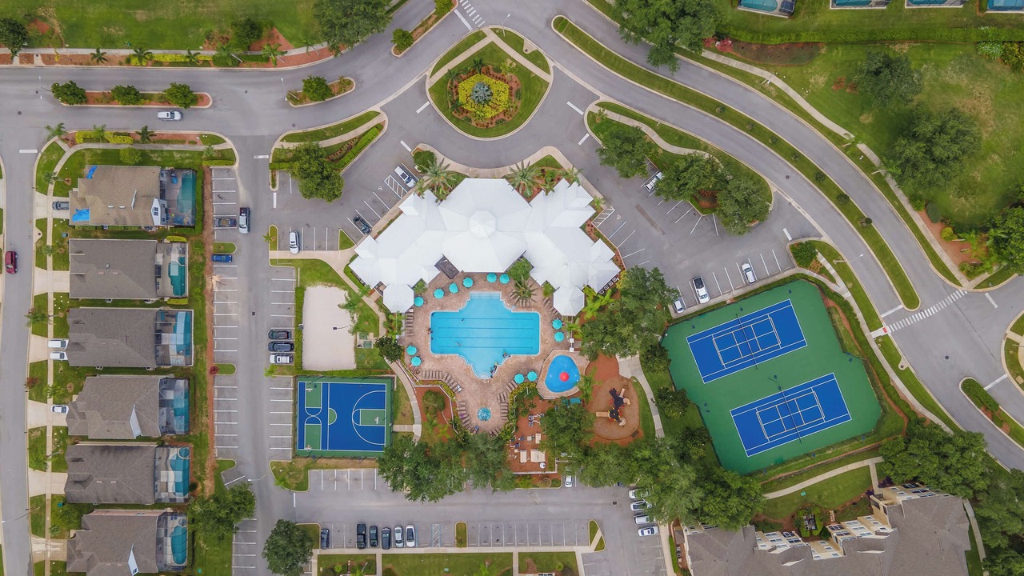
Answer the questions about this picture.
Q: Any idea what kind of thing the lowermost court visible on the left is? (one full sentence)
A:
The lowermost court visible on the left can be classified as a basketball court.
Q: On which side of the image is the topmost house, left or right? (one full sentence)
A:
It is on the left.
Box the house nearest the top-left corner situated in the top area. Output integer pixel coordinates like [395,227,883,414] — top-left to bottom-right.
[69,165,166,226]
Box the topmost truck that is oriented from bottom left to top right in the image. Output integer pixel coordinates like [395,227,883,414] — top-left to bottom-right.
[643,170,665,192]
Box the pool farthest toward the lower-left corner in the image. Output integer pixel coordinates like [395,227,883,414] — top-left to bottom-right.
[171,518,187,565]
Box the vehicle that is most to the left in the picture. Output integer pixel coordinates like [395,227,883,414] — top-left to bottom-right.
[5,250,19,272]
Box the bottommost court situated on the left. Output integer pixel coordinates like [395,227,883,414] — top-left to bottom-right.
[296,378,391,459]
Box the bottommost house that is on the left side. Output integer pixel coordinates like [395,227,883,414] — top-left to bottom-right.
[66,510,168,576]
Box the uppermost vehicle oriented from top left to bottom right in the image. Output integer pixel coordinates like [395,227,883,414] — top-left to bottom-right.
[393,164,417,189]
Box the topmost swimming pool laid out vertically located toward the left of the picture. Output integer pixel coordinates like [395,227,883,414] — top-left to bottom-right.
[175,170,194,214]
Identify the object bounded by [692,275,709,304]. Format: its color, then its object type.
white vehicle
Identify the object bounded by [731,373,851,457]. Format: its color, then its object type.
blue tennis court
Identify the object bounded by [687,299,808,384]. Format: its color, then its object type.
blue tennis court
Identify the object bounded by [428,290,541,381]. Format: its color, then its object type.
blue swimming pool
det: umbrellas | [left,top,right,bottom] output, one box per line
[527,371,537,381]
[407,345,417,355]
[554,332,564,342]
[411,356,422,366]
[514,373,524,384]
[499,273,510,284]
[463,277,473,288]
[487,273,497,283]
[434,288,444,298]
[414,297,424,307]
[552,319,562,330]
